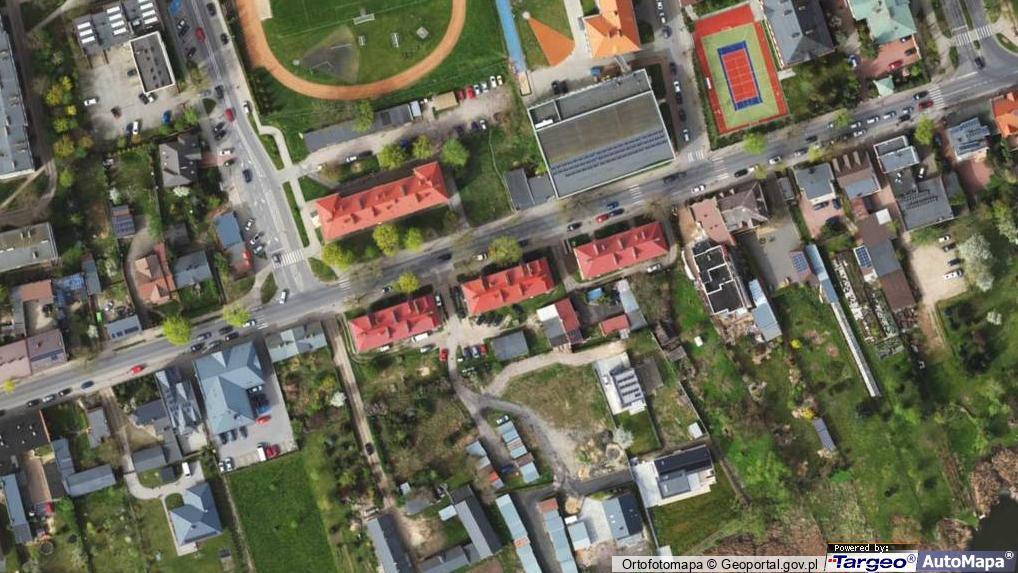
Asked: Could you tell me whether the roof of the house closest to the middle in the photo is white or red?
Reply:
red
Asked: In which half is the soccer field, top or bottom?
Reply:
top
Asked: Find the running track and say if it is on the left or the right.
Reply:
left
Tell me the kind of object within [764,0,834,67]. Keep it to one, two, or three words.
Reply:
building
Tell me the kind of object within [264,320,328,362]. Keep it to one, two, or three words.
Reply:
house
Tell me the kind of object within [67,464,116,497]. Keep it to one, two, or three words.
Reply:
barn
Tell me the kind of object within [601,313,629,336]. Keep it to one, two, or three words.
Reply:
shed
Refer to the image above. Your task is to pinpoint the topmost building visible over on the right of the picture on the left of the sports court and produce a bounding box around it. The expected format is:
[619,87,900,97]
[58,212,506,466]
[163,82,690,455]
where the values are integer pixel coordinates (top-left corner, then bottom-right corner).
[584,0,640,60]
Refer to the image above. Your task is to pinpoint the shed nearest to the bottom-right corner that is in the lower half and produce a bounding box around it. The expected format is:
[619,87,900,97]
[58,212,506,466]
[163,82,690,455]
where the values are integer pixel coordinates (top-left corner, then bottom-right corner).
[812,418,836,453]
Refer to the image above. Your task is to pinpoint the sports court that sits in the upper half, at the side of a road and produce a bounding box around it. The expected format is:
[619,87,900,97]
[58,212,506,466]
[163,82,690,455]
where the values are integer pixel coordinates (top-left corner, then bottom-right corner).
[697,4,788,134]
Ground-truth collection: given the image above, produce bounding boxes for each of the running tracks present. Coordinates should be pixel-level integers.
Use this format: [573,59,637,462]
[236,0,467,99]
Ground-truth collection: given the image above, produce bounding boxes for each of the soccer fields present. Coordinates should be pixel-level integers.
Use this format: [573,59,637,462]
[256,0,452,87]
